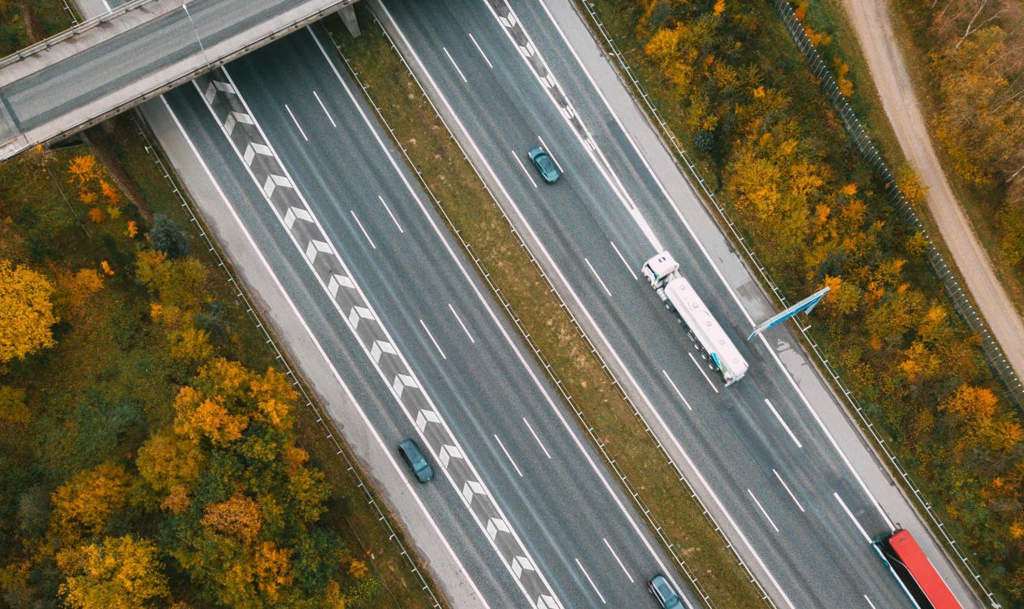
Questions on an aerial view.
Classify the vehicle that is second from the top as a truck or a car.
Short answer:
truck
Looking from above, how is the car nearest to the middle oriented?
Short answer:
diagonally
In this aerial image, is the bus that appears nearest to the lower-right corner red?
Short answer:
Yes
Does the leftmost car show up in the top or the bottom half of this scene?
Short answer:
bottom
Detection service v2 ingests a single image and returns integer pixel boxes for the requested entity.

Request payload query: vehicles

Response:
[648,572,686,609]
[526,147,560,186]
[398,438,433,484]
[642,253,747,389]
[874,521,965,609]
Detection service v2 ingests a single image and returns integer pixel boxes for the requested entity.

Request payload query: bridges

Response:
[0,0,362,160]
